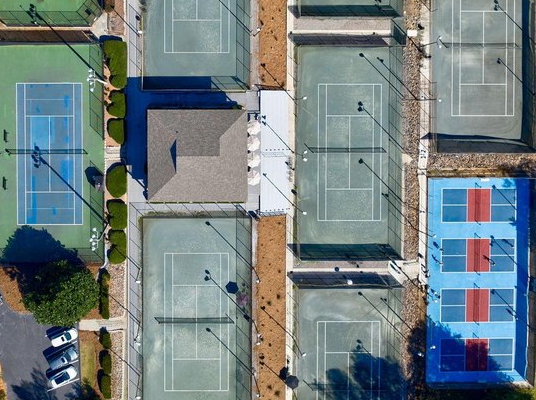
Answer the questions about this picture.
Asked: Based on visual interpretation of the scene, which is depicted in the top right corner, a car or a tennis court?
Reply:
tennis court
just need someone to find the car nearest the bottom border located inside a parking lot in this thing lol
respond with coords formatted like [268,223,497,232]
[49,367,78,387]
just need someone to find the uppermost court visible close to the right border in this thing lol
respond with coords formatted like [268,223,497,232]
[432,0,534,153]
